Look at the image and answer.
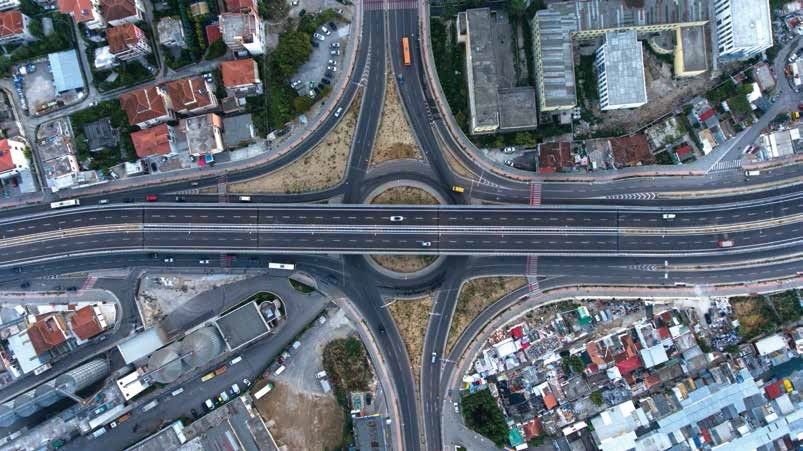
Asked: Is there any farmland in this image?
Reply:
No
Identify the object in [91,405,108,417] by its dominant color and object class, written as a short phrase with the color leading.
blue vehicle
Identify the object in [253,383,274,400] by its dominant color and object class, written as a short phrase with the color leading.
white vehicle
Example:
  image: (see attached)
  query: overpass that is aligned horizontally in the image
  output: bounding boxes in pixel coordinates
[0,191,803,268]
